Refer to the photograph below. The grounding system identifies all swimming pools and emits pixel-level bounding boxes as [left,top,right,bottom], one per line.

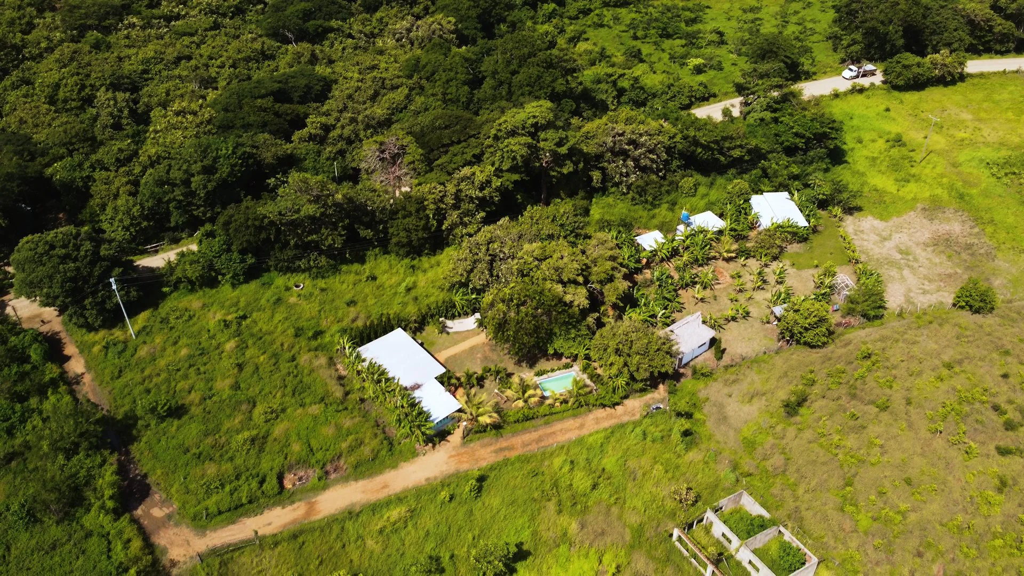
[525,364,596,400]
